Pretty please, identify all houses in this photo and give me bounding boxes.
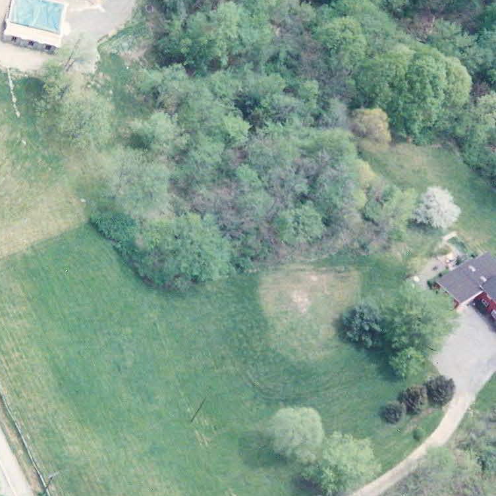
[439,247,496,315]
[2,0,70,54]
